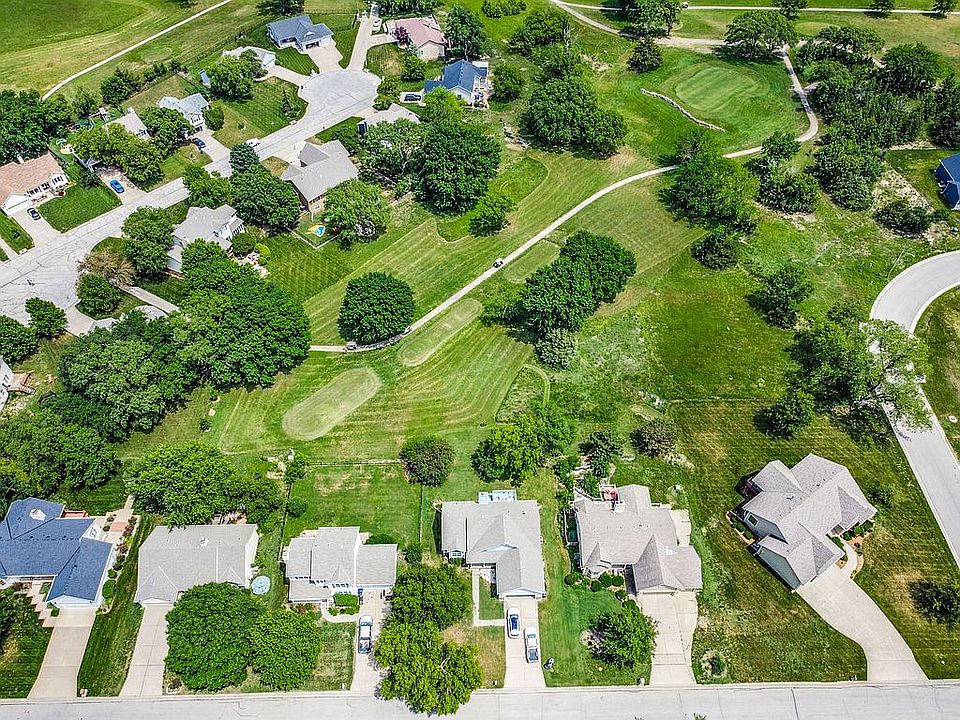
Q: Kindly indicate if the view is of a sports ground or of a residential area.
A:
residential area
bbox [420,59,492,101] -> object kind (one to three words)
house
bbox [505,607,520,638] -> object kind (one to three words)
car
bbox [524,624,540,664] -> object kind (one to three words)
vehicle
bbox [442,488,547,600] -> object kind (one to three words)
house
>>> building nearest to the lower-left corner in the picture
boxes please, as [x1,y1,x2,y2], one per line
[0,497,118,605]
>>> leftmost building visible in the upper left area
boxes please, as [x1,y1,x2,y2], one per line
[0,150,72,215]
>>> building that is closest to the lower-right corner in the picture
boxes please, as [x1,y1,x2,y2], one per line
[736,451,878,587]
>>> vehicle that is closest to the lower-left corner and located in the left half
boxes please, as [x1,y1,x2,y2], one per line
[356,614,372,653]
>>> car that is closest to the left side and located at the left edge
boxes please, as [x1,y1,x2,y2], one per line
[24,206,41,219]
